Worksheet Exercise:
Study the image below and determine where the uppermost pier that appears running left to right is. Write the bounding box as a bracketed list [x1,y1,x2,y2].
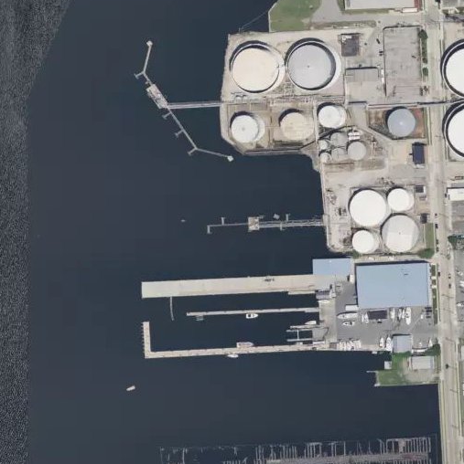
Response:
[207,213,325,234]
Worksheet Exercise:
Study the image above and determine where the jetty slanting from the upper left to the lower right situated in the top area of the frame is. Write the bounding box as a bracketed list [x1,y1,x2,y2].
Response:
[135,39,236,162]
